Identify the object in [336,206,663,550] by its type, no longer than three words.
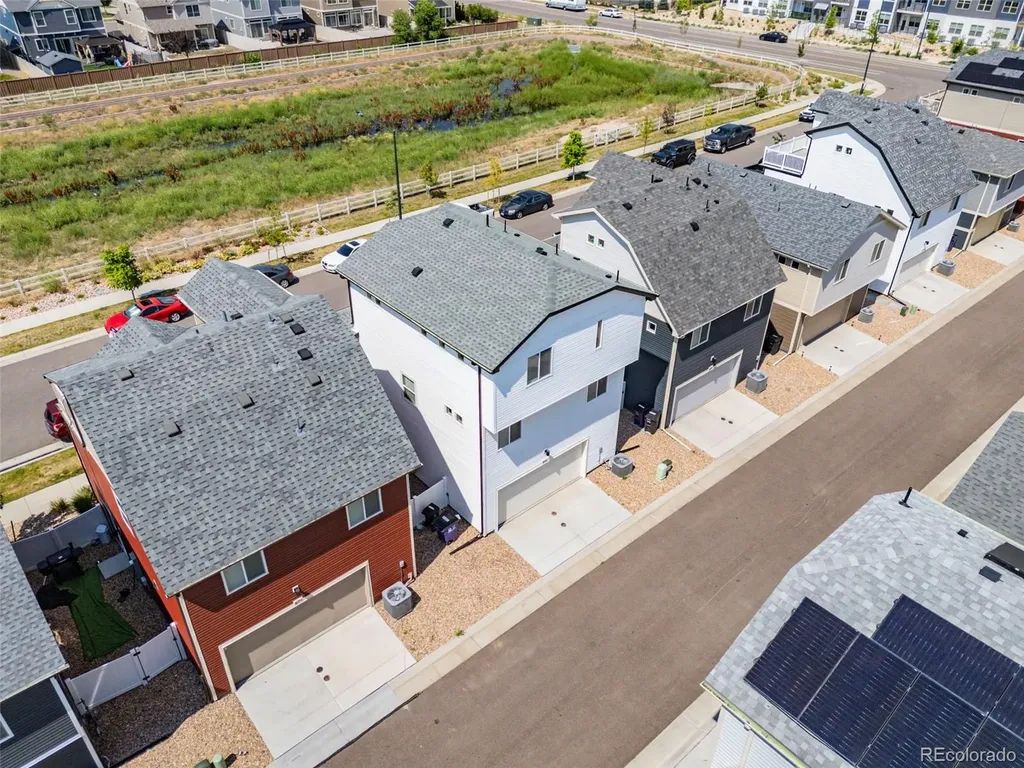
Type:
house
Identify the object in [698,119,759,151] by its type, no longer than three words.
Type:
truck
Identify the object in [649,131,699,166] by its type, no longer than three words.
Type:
car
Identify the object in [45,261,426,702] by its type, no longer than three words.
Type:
house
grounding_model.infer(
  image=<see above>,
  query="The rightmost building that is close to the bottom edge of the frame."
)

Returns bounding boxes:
[692,482,1024,768]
